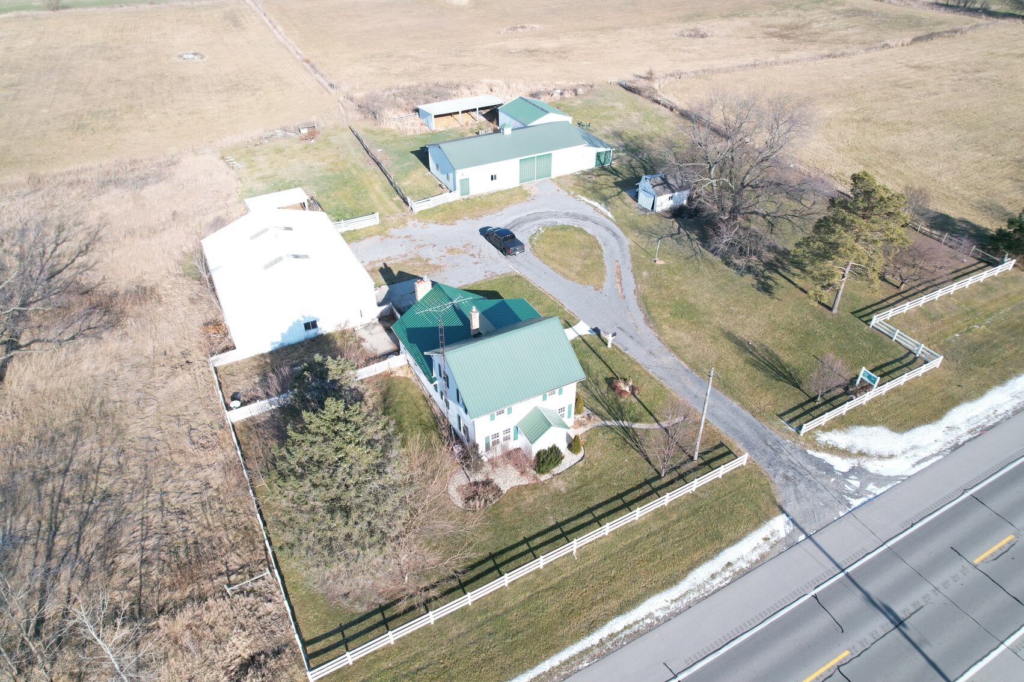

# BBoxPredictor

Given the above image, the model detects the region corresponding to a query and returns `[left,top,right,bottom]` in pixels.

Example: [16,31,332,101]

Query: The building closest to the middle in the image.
[392,275,585,462]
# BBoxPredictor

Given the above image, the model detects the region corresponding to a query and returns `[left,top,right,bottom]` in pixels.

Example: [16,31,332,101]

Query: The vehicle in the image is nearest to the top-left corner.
[485,226,526,256]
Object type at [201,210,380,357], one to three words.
building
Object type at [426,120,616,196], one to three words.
barn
